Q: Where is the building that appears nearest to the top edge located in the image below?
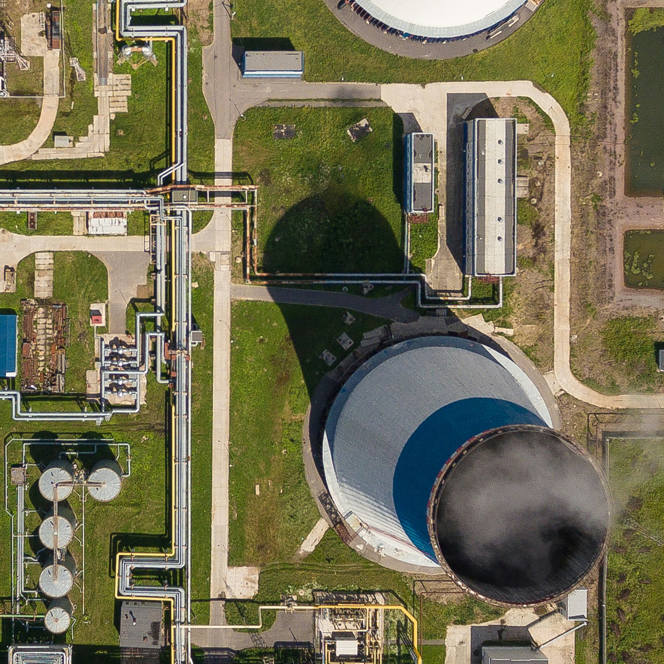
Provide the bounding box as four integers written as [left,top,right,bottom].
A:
[242,51,303,75]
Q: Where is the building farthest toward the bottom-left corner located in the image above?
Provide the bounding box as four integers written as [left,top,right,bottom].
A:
[120,601,162,648]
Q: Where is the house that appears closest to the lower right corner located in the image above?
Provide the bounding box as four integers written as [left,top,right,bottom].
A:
[557,583,588,620]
